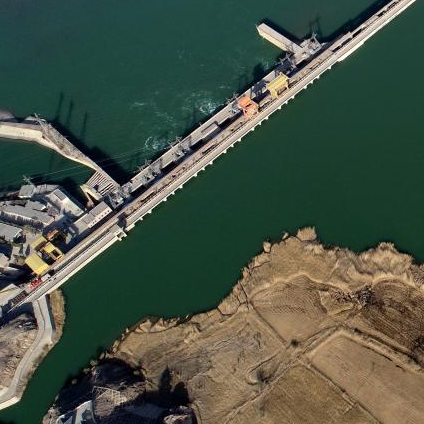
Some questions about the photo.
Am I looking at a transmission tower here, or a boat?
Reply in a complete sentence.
Visible in the photo is a transmission tower.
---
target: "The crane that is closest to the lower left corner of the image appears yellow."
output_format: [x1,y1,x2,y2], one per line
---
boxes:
[24,252,58,281]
